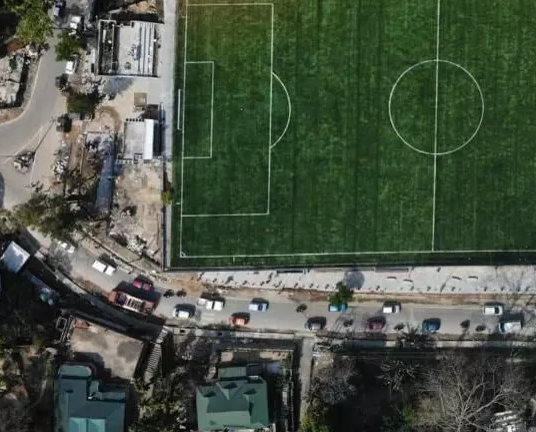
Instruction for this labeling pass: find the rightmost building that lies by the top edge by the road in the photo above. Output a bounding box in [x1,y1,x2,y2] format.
[98,19,160,79]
